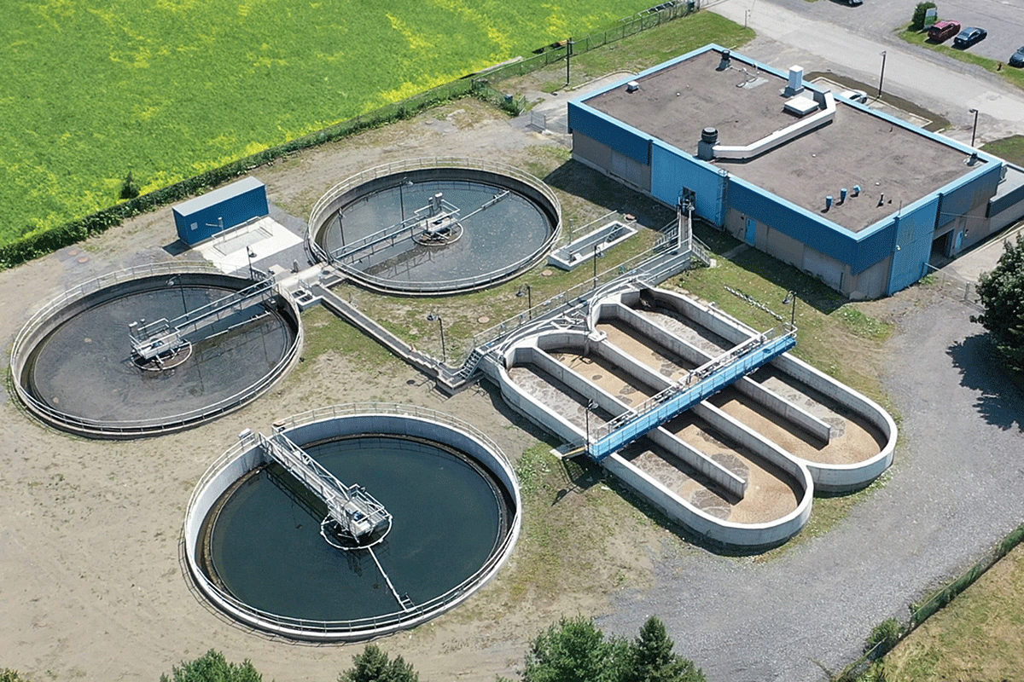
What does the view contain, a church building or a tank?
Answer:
tank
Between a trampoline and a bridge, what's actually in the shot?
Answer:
bridge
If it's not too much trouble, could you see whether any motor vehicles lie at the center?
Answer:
No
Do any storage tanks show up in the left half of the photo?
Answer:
Yes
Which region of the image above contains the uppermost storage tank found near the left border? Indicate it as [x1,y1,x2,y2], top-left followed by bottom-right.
[10,261,309,444]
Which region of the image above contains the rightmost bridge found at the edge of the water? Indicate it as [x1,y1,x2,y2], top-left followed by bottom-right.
[582,325,802,461]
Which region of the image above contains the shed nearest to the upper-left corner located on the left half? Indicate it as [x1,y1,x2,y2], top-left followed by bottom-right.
[172,175,269,245]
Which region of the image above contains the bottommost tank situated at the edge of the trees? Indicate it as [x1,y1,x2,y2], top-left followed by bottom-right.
[183,402,529,645]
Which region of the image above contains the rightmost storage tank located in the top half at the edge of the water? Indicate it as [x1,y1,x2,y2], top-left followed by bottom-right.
[307,157,566,302]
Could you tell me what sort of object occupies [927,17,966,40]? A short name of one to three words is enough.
car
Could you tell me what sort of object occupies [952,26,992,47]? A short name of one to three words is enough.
car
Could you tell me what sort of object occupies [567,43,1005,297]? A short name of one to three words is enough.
building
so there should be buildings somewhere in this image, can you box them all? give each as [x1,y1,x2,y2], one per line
[172,175,269,245]
[567,43,1005,297]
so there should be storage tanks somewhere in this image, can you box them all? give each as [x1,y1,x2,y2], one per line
[183,402,529,645]
[307,157,566,302]
[10,261,309,444]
